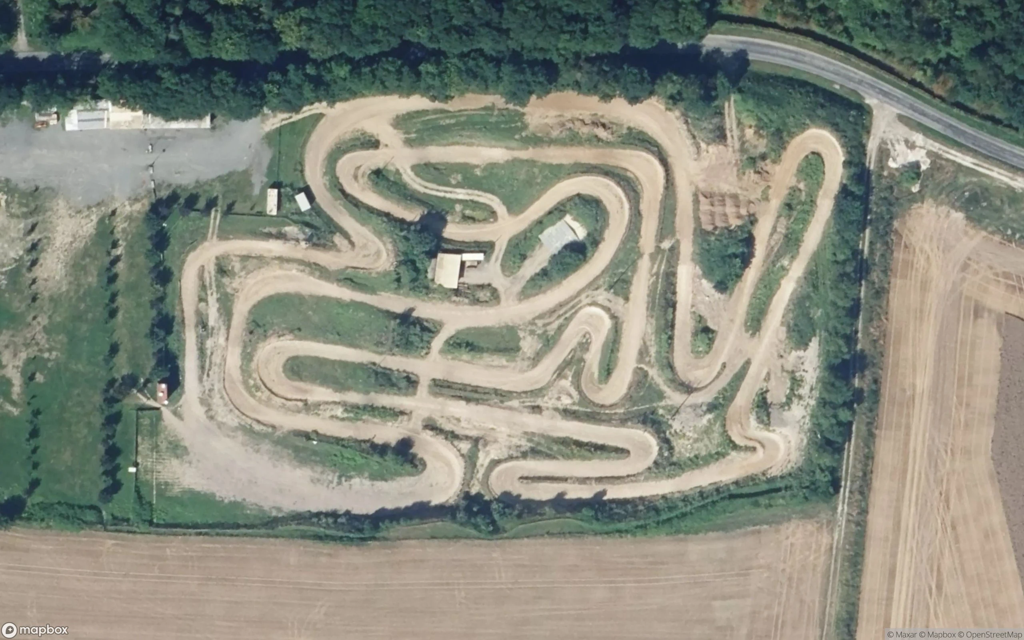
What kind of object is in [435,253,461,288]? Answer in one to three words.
building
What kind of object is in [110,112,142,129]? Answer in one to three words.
barn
